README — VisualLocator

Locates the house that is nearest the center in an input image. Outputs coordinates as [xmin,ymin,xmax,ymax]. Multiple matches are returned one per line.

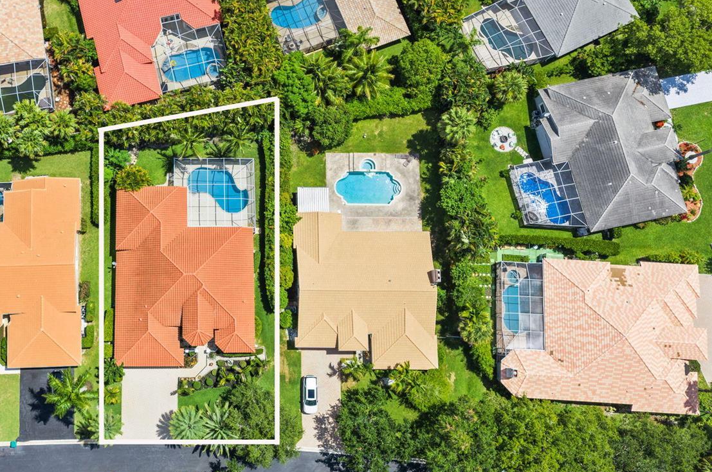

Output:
[293,212,442,370]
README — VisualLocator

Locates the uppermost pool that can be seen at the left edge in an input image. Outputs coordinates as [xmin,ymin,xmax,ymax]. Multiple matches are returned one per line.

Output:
[0,70,50,114]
